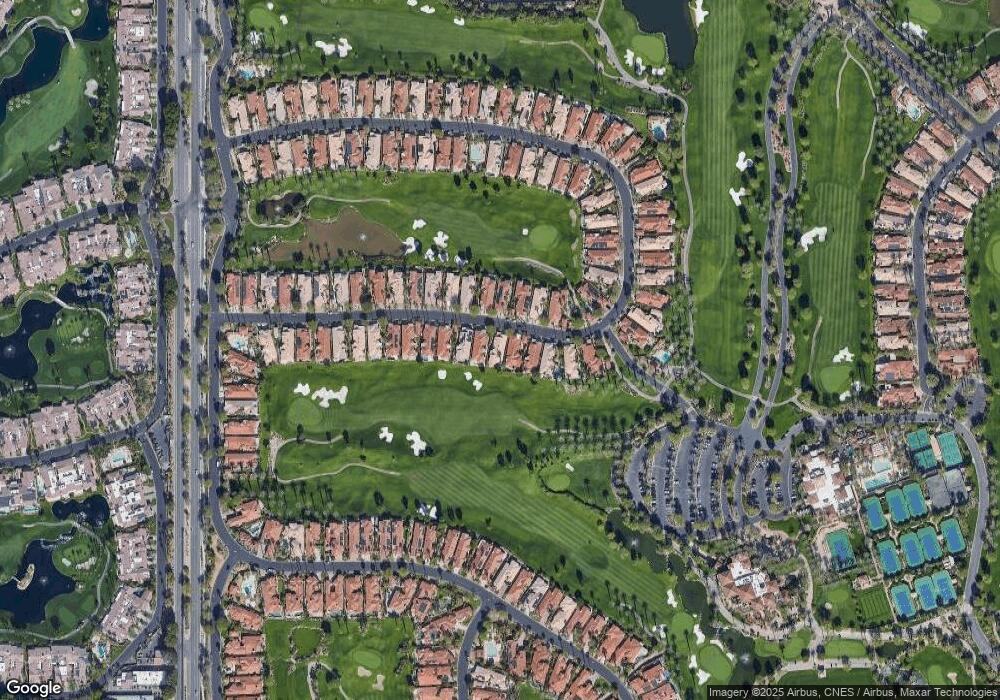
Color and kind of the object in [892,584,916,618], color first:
blue tennis court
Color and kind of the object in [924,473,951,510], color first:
gray tennis court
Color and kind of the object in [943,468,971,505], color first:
gray tennis court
